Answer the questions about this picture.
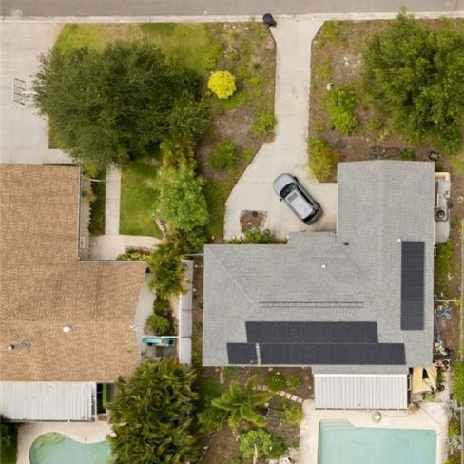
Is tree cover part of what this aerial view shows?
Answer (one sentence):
Yes, some tree cover is visible.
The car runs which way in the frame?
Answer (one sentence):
The car runs at an angle in the image.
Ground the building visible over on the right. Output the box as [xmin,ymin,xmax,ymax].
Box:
[202,158,437,410]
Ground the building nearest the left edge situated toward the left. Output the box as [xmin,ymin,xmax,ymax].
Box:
[0,162,153,421]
